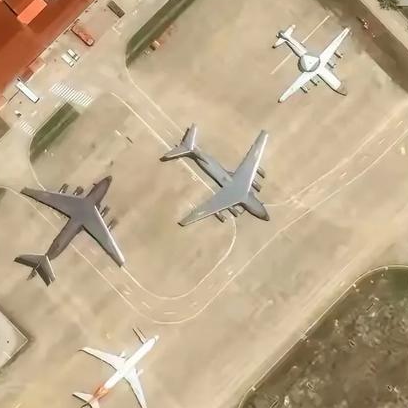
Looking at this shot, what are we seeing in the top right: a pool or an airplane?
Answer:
airplane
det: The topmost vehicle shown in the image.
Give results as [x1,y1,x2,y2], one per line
[107,0,125,17]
